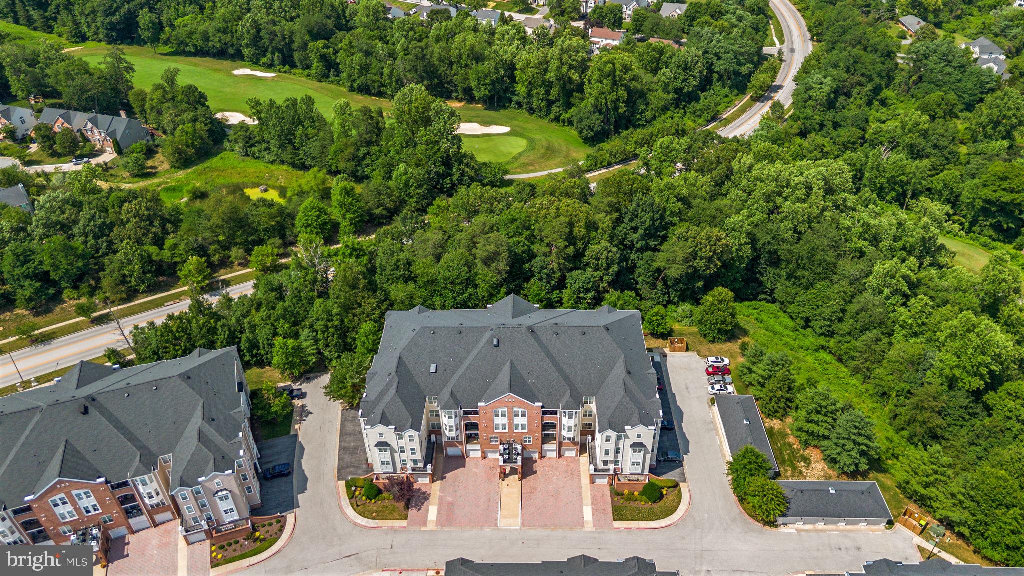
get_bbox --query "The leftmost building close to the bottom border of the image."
[0,346,285,576]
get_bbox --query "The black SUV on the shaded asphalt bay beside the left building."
[261,465,290,481]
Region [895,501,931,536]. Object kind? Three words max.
building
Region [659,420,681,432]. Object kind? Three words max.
vehicle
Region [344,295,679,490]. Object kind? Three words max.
building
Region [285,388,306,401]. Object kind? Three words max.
vehicle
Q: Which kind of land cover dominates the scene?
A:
trees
